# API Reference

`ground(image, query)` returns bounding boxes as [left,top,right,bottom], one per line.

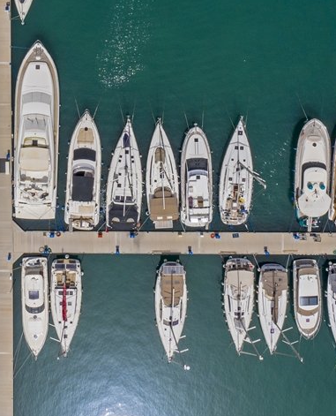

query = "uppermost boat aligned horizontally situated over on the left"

[73,218,100,231]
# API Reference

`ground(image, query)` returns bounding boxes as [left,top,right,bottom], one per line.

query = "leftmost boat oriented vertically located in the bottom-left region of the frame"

[11,255,51,376]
